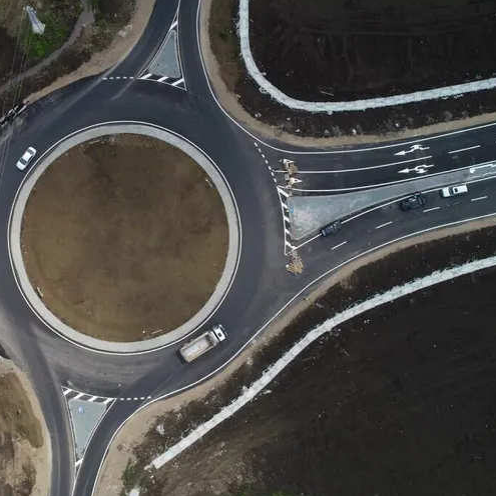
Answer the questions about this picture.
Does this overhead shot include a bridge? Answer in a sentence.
No, I can see no bridge in this picture.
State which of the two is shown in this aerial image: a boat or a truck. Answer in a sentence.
Looking from above, you can make out a truck.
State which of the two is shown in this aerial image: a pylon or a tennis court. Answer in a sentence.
I can see a pylon in this picture.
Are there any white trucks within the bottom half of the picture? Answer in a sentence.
Yes, looking within the bottom half of the picture, one can make out a white truck.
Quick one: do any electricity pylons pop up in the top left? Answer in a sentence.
Yes, I can see an electricity pylon in the top left.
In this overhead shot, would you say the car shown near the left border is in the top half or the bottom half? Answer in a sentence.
Seen from above, the car shown near the left border lies in the top half of the view.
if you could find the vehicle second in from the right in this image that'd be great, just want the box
[399,193,427,210]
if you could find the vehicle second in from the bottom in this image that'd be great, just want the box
[319,219,343,237]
